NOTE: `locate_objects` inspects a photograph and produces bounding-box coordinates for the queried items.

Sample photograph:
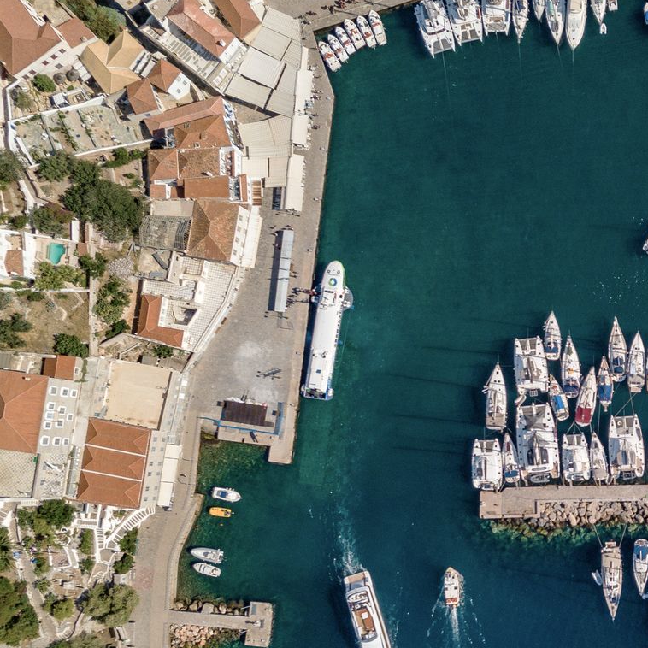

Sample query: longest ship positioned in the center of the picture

[305,261,351,404]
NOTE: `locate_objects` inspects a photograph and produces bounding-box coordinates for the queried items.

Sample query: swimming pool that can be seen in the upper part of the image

[38,237,82,266]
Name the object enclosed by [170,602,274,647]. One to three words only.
pier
